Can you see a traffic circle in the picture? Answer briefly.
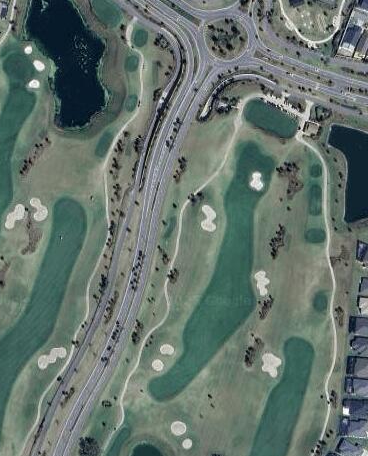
Yes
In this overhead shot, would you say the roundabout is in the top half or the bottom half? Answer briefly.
top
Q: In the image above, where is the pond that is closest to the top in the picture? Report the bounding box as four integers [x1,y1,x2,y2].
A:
[25,0,105,127]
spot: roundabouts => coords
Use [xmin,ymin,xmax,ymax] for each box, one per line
[194,7,261,72]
